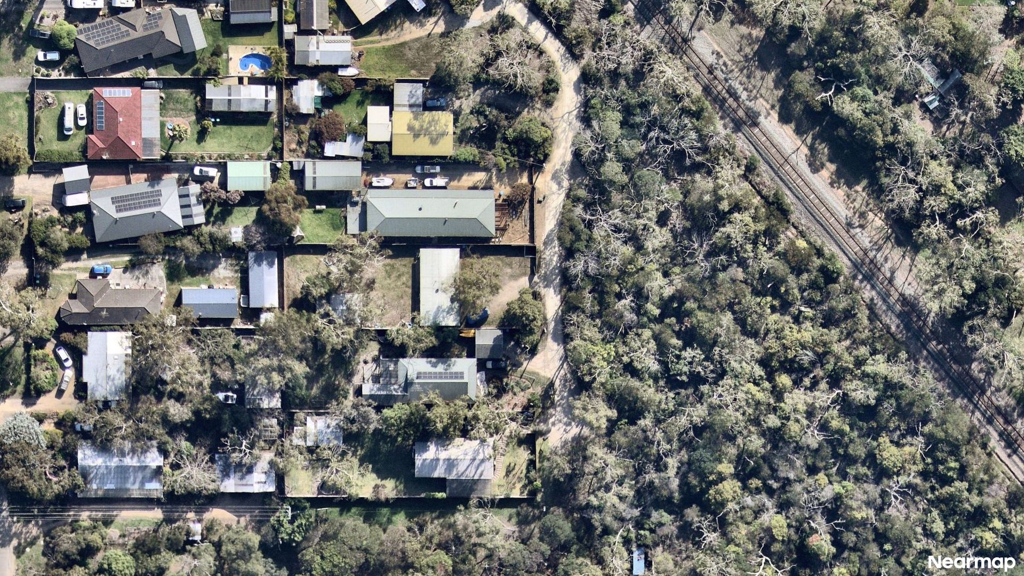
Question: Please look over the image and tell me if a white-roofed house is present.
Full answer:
Yes, a white-roofed house is visible in the scene.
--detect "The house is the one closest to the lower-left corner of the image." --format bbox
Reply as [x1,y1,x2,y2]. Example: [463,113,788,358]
[78,440,164,498]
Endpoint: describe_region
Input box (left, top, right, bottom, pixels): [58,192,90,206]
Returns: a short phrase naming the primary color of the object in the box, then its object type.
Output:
white camper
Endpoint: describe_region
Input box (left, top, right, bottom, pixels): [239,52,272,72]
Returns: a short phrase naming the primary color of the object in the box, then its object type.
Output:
blue swimming pool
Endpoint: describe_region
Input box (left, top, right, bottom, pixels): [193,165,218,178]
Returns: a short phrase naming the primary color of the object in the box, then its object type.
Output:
white vehicle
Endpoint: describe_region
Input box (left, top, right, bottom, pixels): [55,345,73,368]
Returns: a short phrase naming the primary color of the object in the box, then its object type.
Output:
white car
